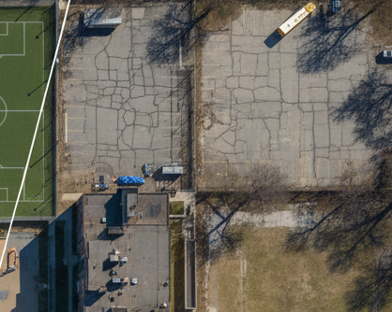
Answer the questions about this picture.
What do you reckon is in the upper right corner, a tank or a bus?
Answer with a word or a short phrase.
bus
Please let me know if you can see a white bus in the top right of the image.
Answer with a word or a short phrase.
Yes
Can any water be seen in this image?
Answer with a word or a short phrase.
No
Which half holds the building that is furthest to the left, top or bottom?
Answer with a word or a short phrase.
bottom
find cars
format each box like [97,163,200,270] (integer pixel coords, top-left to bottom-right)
[329,0,340,13]
[381,48,392,58]
[93,179,112,190]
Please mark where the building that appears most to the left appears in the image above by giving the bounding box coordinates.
[77,188,170,312]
